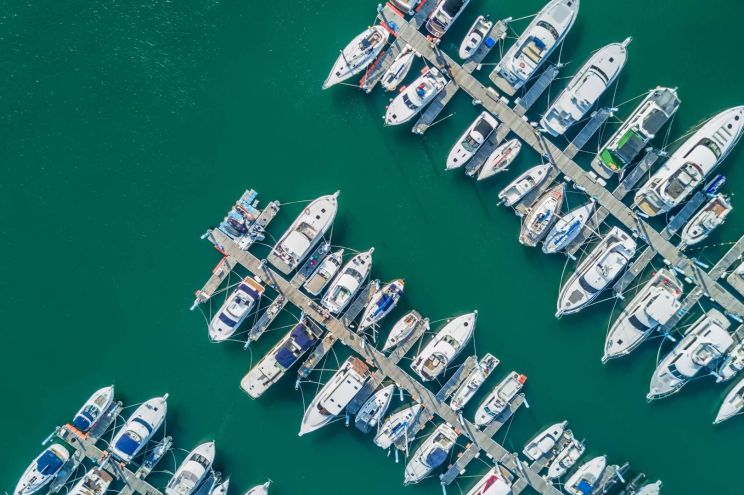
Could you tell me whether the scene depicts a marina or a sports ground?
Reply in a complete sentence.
It's a marina.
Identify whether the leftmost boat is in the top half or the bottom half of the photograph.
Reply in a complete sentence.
You can find the leftmost boat in the bottom half.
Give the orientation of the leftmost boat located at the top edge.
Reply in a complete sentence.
The leftmost boat located at the top edge is oriented diagonally.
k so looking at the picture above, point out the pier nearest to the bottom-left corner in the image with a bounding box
[46,398,223,495]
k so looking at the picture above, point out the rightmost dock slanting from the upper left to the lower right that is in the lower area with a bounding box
[195,198,619,495]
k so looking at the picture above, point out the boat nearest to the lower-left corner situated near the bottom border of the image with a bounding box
[12,438,70,495]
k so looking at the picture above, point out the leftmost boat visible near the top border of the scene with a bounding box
[322,24,392,89]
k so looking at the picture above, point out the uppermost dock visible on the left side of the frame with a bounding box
[222,190,262,243]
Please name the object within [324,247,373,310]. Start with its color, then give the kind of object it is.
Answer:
white boat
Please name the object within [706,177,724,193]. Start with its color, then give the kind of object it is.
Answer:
blue boat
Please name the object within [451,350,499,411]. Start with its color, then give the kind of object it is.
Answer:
white boat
